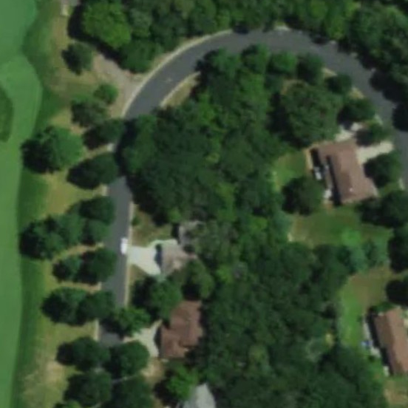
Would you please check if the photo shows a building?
Yes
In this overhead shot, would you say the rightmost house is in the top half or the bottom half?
bottom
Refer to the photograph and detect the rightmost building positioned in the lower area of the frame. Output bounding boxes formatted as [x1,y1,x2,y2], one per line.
[373,305,408,377]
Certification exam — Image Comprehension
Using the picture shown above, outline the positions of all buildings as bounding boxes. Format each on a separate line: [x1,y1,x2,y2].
[373,305,408,377]
[161,223,191,270]
[178,383,222,408]
[316,139,378,206]
[160,302,203,359]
